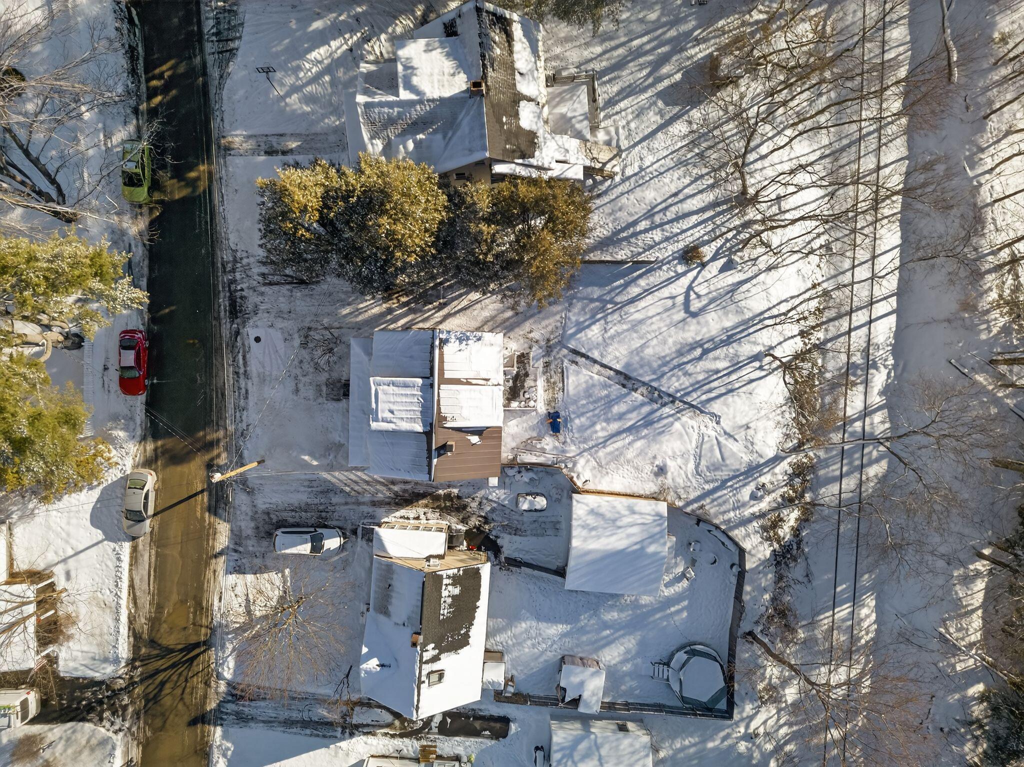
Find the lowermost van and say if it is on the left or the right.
left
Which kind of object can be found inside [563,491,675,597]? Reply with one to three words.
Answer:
building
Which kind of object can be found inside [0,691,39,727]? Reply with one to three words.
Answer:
van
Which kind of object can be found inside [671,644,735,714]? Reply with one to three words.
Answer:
swimming pool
